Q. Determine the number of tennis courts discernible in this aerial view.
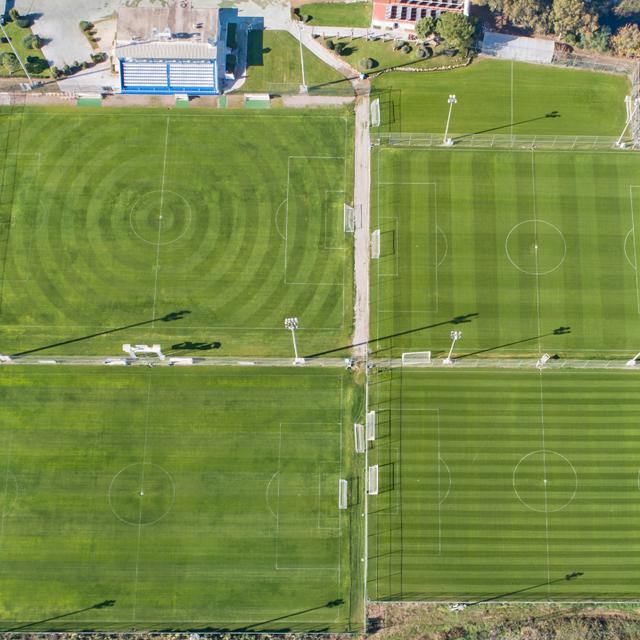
none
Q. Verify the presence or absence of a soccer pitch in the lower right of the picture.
Yes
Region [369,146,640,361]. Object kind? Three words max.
soccer field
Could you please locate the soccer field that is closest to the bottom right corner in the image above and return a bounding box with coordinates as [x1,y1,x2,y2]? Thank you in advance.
[368,369,640,601]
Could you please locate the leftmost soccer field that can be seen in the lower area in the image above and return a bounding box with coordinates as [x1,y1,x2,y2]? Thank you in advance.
[0,367,365,636]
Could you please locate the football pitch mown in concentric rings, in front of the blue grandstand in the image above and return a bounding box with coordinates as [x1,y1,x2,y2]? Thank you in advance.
[0,107,350,359]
